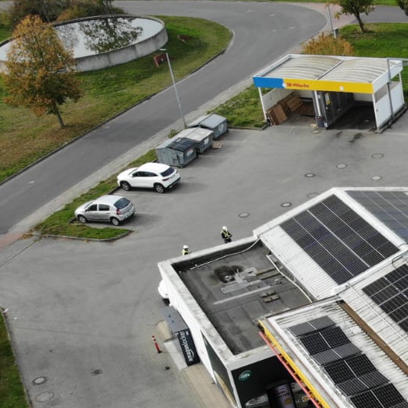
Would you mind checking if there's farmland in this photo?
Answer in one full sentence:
No, the scene doesn't show any farmland.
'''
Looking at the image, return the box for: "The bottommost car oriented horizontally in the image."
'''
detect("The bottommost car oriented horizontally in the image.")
[73,196,136,225]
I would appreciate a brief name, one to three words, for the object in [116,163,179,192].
car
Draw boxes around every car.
[157,283,168,301]
[116,163,179,192]
[73,196,136,225]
